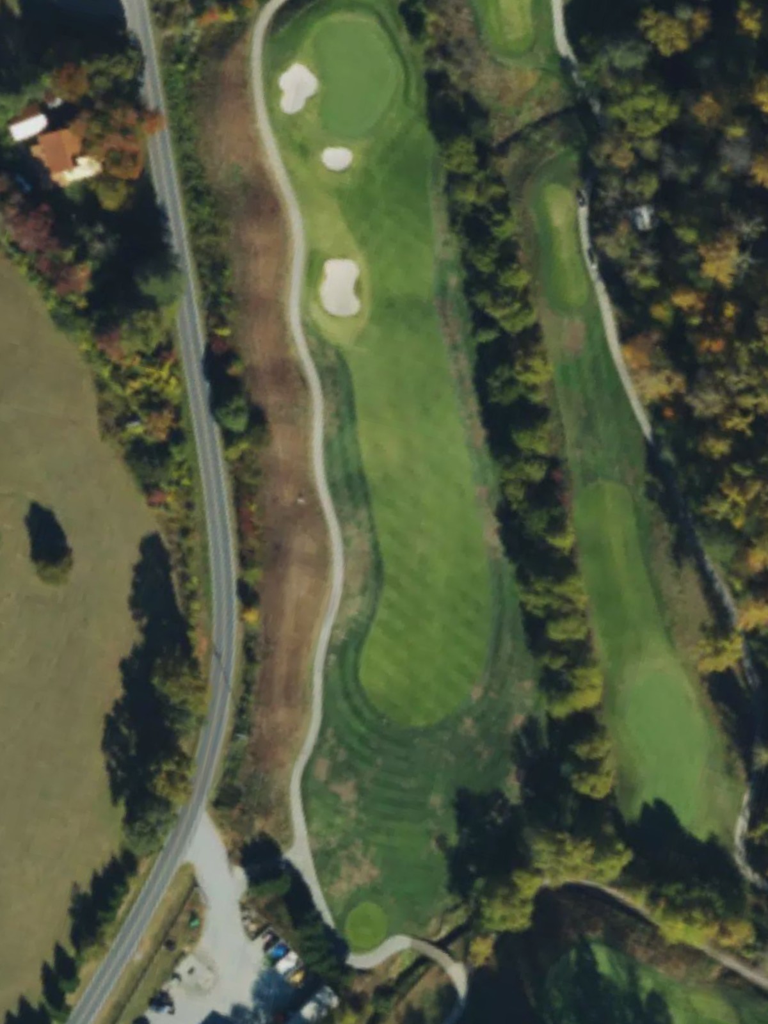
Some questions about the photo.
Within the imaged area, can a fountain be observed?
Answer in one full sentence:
No, there isn't any fountain down there.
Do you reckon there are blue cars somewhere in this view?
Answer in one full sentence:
Yes, the photo shows a blue car.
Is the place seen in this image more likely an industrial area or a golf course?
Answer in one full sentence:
The area seen from above is a golf course.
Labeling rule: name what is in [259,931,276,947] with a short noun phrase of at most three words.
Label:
car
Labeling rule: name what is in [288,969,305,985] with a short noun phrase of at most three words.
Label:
car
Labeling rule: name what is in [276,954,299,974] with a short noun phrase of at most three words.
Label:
vehicle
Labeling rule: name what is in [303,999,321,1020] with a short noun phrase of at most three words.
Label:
vehicle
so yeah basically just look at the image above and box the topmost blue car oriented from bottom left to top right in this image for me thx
[268,941,287,958]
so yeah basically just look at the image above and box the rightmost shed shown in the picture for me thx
[635,205,653,228]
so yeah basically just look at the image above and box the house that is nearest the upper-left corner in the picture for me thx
[9,110,48,141]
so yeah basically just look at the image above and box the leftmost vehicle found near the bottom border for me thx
[148,993,173,1009]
